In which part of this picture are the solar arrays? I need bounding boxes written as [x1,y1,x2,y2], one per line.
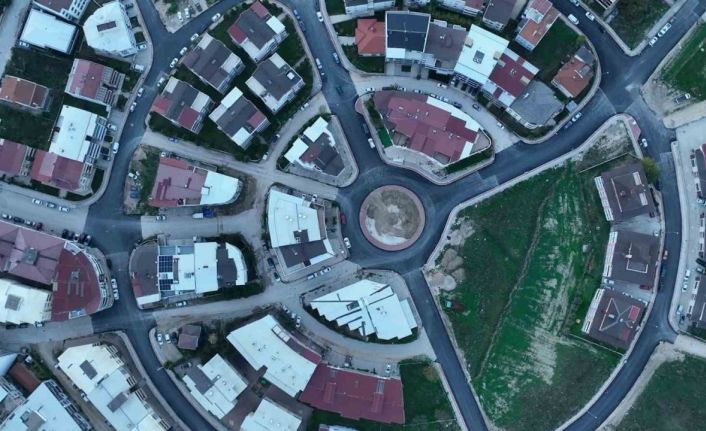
[163,279,176,290]
[163,255,176,272]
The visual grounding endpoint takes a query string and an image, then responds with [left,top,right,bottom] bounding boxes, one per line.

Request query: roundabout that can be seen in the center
[360,186,425,251]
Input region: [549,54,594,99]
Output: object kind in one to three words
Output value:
house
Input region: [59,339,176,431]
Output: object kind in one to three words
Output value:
building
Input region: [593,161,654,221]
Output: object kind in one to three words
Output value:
house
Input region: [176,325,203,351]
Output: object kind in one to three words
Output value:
shed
